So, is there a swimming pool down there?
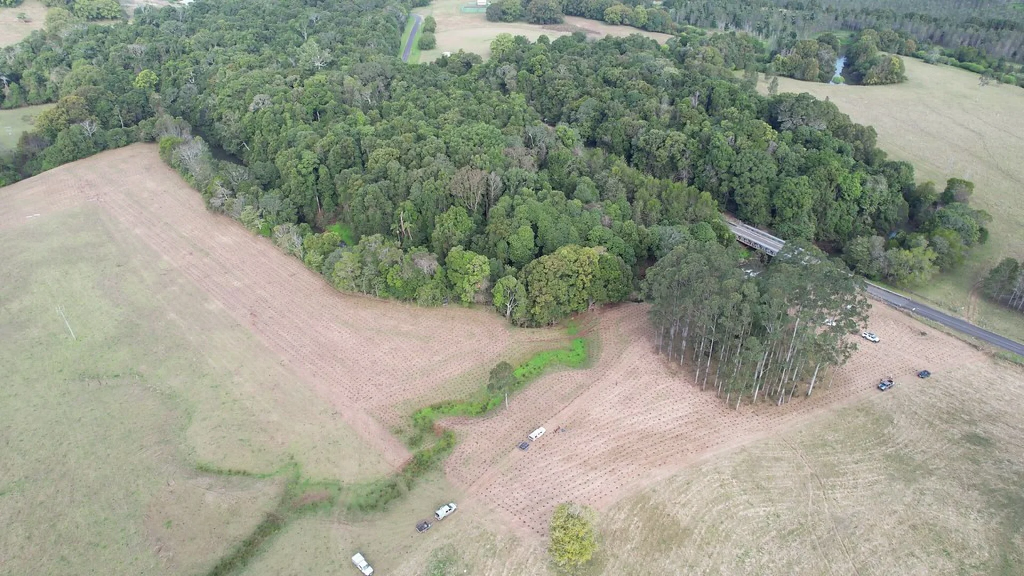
No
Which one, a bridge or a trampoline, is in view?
bridge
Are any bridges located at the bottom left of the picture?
No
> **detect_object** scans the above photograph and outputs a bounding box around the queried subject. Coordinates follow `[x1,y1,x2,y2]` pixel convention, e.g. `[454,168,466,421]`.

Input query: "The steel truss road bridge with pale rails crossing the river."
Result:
[728,217,864,285]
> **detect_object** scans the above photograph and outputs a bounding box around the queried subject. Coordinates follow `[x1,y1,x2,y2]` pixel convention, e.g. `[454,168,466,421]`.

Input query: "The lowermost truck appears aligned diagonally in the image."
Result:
[349,547,373,575]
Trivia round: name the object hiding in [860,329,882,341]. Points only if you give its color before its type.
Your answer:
white vehicle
